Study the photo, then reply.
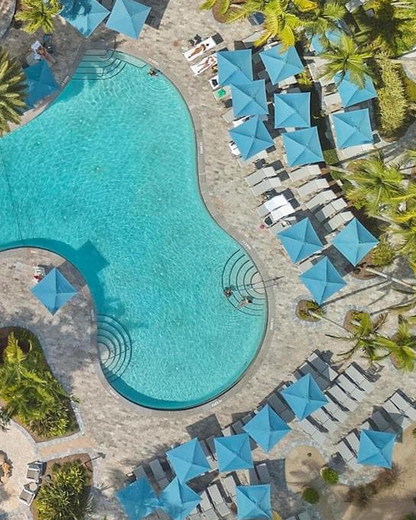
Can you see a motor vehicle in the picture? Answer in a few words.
No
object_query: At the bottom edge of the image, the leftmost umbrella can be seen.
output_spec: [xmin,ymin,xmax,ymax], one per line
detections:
[114,475,160,519]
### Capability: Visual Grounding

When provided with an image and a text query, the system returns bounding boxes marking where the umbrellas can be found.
[214,48,252,86]
[164,434,213,481]
[27,264,77,313]
[294,253,344,304]
[212,430,251,469]
[17,61,62,109]
[226,112,275,161]
[104,0,149,39]
[258,42,301,86]
[114,475,160,519]
[227,78,267,117]
[277,369,328,420]
[326,216,377,264]
[350,426,393,466]
[61,0,109,38]
[275,216,320,263]
[269,92,307,128]
[154,472,201,520]
[232,478,269,518]
[239,399,289,449]
[328,108,372,148]
[279,123,323,167]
